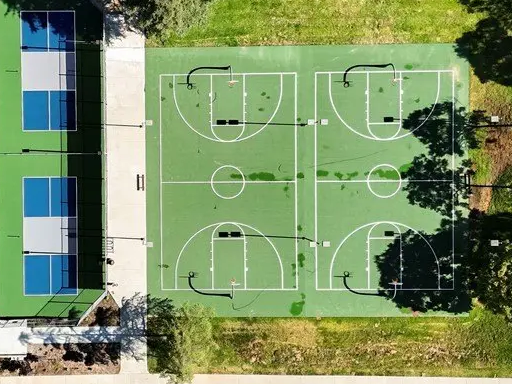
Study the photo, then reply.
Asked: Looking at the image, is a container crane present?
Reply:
No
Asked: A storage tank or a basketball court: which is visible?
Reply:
basketball court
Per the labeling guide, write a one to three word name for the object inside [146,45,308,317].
basketball court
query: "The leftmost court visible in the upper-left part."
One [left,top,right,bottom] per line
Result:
[0,0,105,153]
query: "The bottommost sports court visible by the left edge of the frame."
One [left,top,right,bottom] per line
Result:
[0,153,105,319]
